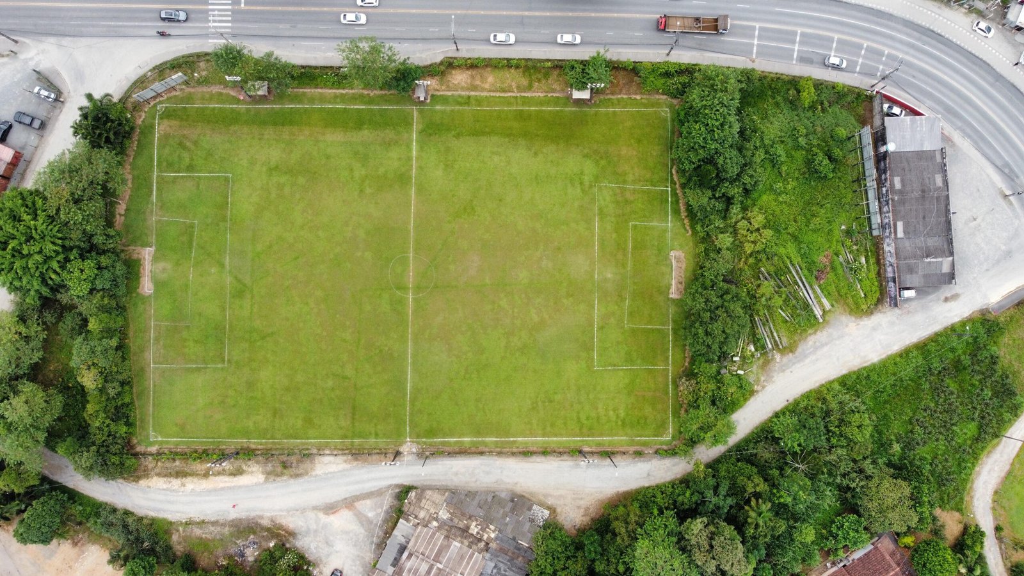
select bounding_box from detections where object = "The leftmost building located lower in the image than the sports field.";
[376,491,546,576]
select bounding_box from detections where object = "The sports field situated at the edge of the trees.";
[122,90,695,448]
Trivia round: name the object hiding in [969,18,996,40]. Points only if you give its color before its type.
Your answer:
white car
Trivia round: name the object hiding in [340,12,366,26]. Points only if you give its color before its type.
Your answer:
white car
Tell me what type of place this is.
sports ground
